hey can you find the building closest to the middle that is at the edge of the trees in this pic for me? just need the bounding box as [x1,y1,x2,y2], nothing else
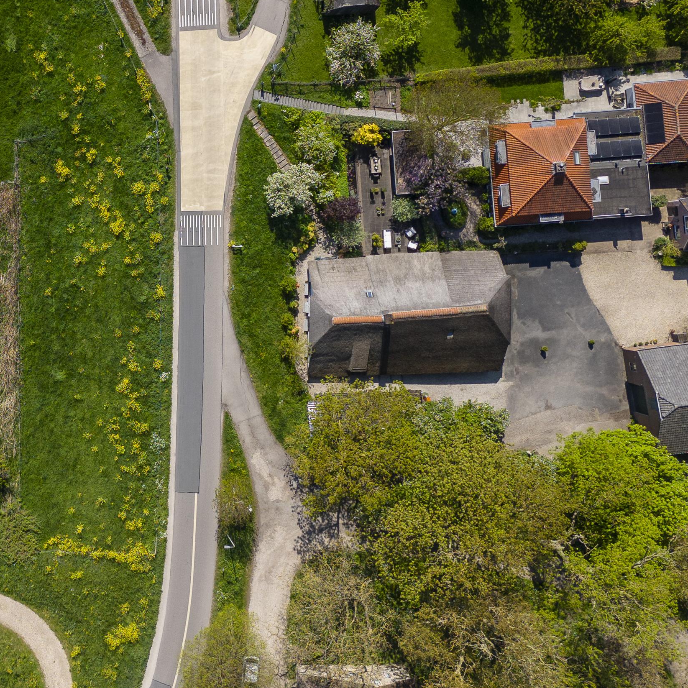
[306,250,510,379]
